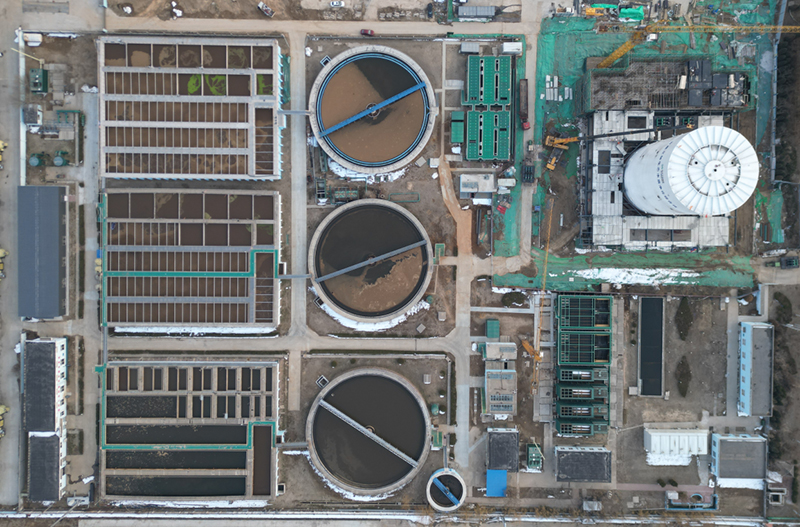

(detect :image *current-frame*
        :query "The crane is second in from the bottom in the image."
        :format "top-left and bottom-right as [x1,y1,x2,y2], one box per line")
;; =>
[543,123,693,175]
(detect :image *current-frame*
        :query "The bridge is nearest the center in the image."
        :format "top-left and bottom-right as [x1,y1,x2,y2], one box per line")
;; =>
[315,240,427,283]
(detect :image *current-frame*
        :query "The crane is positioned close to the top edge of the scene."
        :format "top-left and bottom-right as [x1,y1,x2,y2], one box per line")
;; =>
[590,22,800,70]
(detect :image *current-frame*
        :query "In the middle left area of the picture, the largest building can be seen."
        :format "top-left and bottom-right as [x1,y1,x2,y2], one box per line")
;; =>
[18,186,72,316]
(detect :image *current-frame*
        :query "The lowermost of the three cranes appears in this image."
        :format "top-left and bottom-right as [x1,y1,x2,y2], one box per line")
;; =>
[513,197,556,397]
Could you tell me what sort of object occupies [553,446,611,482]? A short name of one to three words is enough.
house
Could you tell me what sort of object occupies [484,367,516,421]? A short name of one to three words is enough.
building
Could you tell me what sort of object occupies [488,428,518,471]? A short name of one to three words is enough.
house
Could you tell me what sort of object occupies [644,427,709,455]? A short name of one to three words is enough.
shed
